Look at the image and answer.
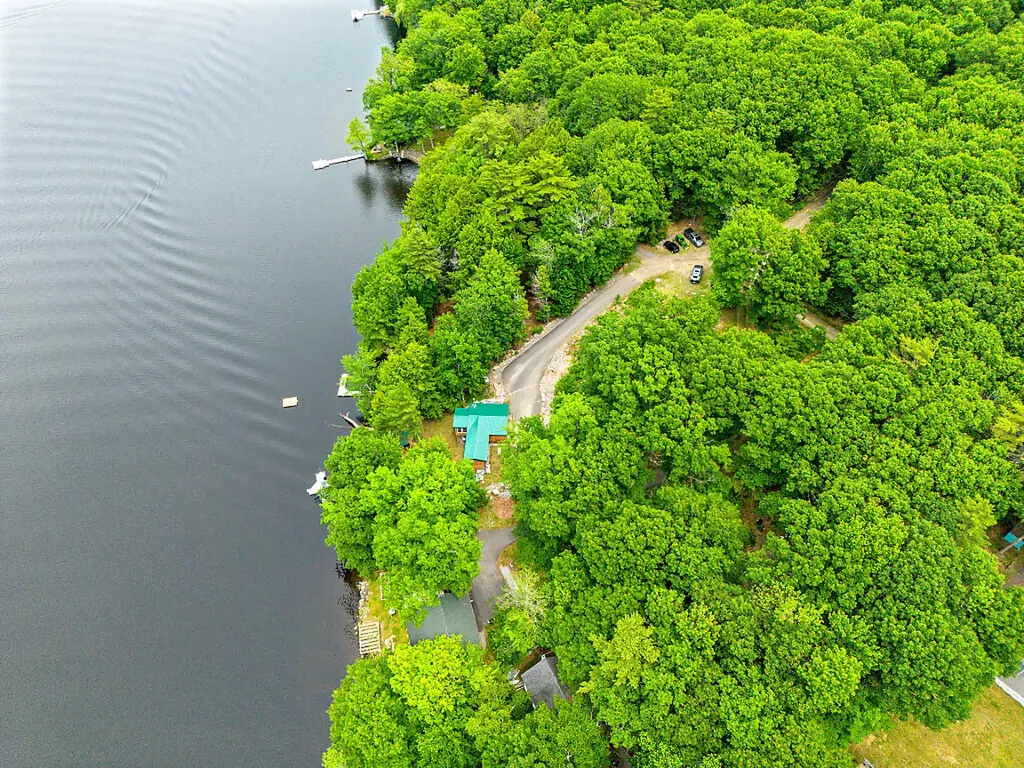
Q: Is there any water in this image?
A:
Yes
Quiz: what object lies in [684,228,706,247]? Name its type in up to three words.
vehicle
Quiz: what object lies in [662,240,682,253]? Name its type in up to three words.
vehicle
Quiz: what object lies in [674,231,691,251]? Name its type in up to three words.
work vehicle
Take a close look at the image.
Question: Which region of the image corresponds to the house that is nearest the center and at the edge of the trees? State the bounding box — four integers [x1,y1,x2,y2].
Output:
[453,403,509,468]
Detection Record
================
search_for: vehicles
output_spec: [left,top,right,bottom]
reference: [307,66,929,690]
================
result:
[684,228,706,247]
[662,240,682,253]
[674,231,691,251]
[691,266,702,283]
